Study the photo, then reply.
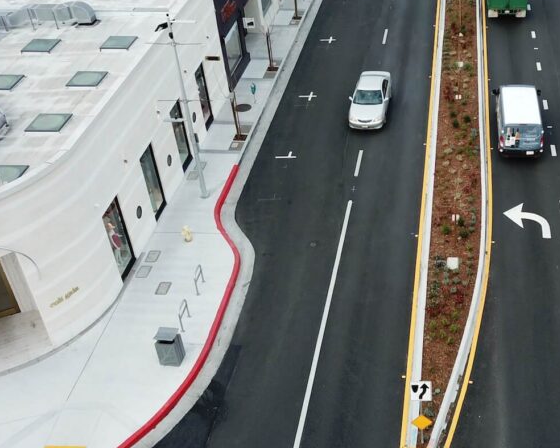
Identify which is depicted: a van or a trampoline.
van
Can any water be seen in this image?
No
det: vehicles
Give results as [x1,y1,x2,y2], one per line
[347,69,393,128]
[487,0,529,20]
[494,85,545,158]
